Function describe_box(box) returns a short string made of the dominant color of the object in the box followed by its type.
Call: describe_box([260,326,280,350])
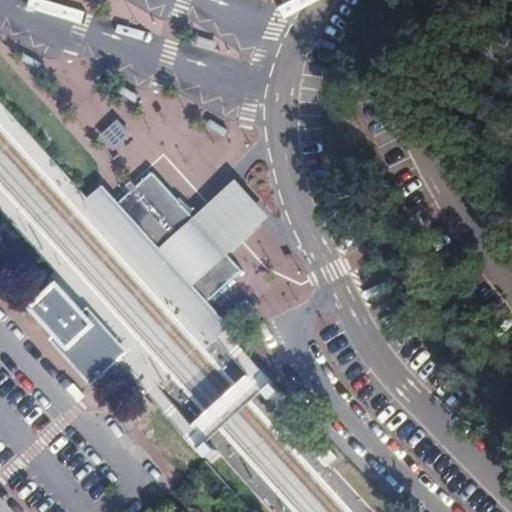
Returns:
white vehicle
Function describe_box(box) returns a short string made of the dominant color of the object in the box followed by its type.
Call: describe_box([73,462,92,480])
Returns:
white car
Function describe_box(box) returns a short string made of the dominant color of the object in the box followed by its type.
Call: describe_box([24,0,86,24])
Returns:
white bus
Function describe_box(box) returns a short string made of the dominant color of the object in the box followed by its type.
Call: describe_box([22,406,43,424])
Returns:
white car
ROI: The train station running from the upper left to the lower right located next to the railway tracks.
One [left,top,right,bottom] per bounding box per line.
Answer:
[0,103,373,512]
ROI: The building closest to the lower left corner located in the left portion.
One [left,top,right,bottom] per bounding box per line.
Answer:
[26,282,124,382]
